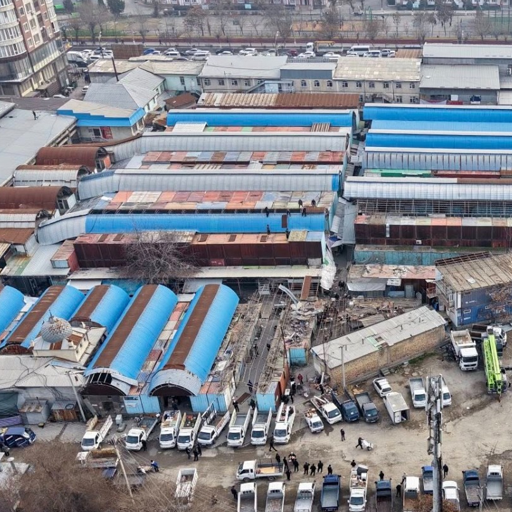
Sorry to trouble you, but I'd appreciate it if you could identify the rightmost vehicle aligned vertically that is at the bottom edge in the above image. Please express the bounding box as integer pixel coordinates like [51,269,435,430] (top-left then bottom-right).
[485,459,505,499]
